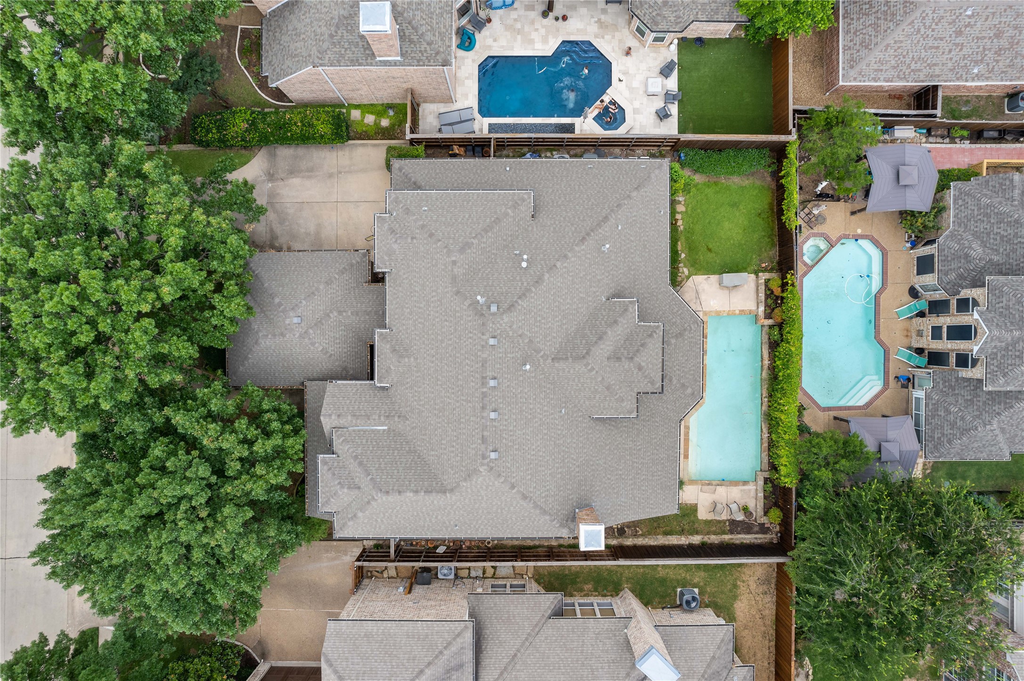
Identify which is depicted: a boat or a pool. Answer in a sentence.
It is a pool that can be seen here.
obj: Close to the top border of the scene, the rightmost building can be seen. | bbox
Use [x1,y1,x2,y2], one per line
[823,0,1024,97]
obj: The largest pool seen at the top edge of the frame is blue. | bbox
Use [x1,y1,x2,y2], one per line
[473,34,617,122]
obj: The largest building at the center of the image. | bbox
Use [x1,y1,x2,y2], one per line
[224,156,706,550]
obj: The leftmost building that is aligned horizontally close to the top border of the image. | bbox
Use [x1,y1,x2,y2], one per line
[250,0,473,106]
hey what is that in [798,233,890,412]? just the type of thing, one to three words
swimming pool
